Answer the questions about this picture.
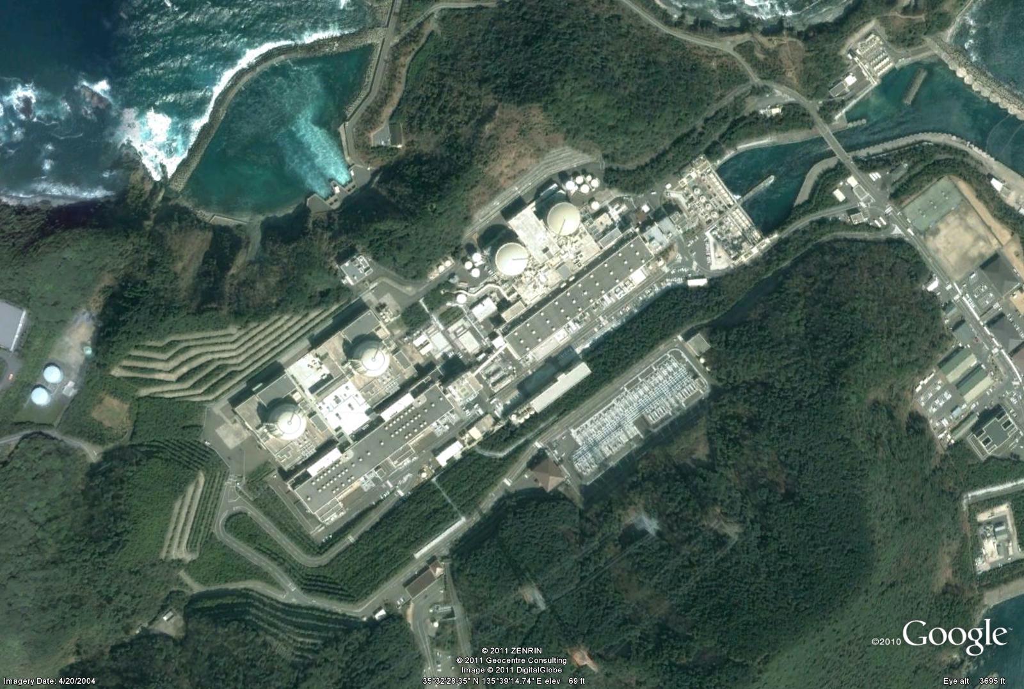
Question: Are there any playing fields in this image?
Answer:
Yes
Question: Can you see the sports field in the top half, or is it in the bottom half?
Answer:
top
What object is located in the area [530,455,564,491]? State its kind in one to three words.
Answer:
house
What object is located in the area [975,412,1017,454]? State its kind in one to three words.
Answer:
building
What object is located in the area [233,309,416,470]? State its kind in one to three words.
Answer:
building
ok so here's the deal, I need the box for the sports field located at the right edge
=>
[925,200,1000,280]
